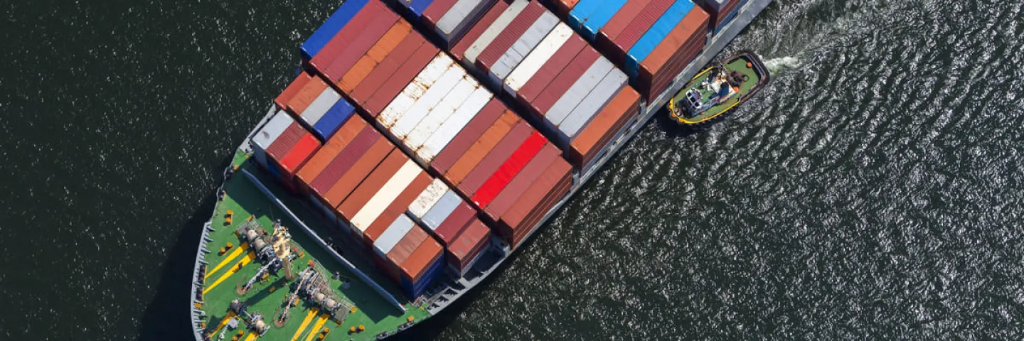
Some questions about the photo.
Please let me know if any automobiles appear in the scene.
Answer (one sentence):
No, the picture doesn't show any automobile.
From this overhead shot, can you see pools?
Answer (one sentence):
No, I can't see a single pool in this photo.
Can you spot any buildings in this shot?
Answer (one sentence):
No, the picture doesn't show any building.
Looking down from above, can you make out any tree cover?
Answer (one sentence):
No, tree cover can't be seen anywhere here.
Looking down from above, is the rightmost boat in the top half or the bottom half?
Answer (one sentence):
The top half of the photo is where the rightmost boat is.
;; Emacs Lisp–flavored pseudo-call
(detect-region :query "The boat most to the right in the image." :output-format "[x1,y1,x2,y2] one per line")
[666,48,773,134]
